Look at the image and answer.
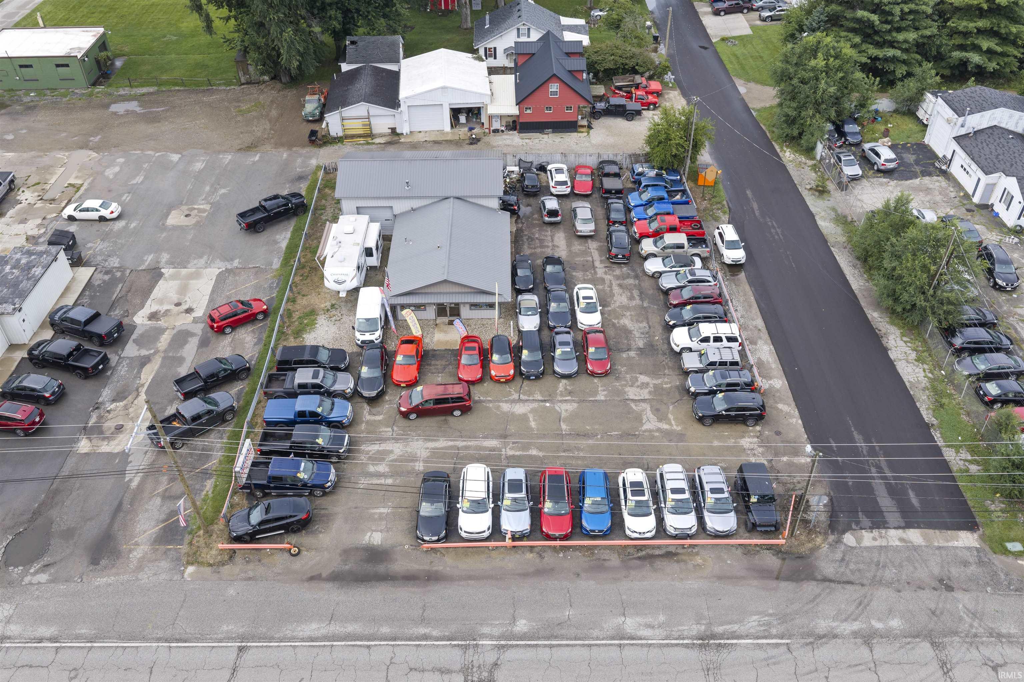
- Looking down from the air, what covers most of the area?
paved ground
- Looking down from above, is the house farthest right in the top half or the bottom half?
top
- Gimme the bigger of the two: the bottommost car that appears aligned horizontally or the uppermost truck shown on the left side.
the car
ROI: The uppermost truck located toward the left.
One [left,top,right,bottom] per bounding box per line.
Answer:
[300,73,329,121]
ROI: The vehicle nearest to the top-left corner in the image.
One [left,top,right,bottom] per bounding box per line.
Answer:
[0,176,25,201]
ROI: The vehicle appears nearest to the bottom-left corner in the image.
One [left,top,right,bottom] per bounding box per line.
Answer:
[0,401,48,441]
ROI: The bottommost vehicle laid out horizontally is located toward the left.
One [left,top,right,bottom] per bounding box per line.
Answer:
[228,500,314,544]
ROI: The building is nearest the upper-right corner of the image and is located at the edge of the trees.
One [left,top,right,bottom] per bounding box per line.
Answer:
[923,81,1024,233]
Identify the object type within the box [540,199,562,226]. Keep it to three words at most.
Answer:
car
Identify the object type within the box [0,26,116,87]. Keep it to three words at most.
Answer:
building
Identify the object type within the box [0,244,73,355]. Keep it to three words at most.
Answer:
shed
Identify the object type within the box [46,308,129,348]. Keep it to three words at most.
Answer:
truck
